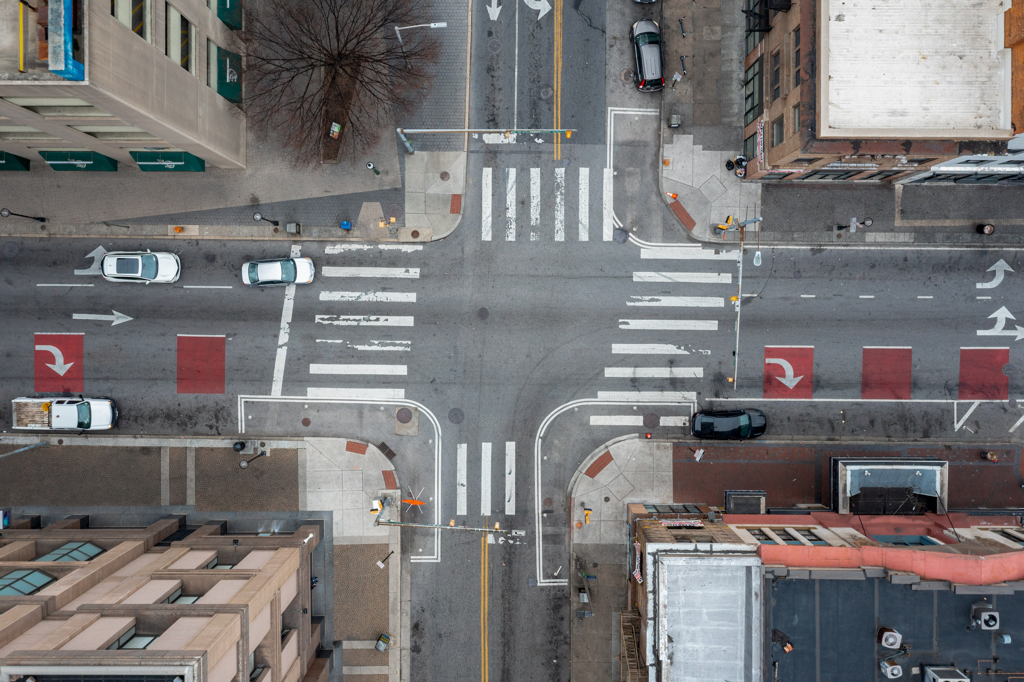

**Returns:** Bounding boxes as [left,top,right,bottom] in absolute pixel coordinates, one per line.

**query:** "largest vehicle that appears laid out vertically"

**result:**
[631,19,665,93]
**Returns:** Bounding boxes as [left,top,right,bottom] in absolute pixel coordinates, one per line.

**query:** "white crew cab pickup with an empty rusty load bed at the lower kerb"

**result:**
[10,395,122,434]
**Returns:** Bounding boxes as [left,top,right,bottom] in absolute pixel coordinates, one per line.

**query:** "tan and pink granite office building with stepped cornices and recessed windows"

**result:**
[0,531,310,682]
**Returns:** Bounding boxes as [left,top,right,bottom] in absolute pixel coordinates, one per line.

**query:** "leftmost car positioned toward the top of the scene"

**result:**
[100,250,184,285]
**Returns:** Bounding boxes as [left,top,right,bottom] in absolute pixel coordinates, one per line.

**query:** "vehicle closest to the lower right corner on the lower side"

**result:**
[691,408,766,442]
